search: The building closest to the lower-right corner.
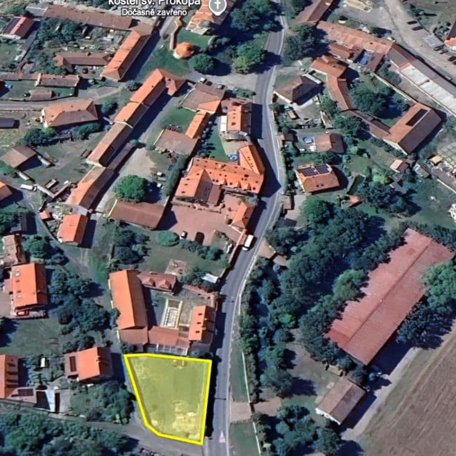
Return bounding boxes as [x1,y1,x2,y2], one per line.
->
[322,378,367,425]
